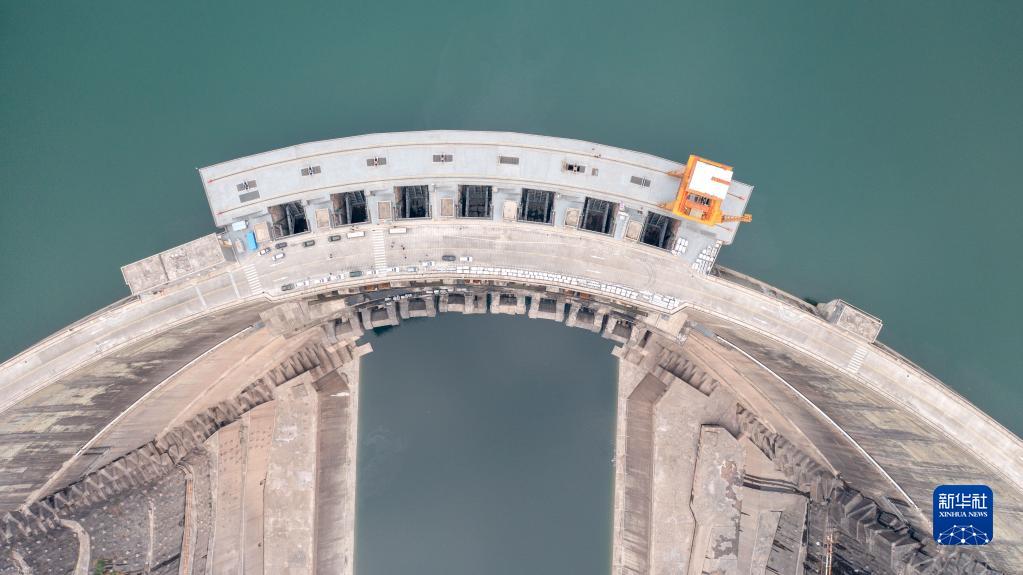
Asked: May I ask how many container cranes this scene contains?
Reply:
1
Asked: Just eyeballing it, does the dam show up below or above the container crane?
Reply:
below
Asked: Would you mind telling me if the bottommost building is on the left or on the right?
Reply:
right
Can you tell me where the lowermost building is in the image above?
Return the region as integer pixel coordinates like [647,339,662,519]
[822,299,883,343]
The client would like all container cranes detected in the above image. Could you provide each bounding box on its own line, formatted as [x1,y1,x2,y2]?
[650,155,751,223]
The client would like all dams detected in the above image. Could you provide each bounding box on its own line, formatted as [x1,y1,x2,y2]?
[0,223,1023,575]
